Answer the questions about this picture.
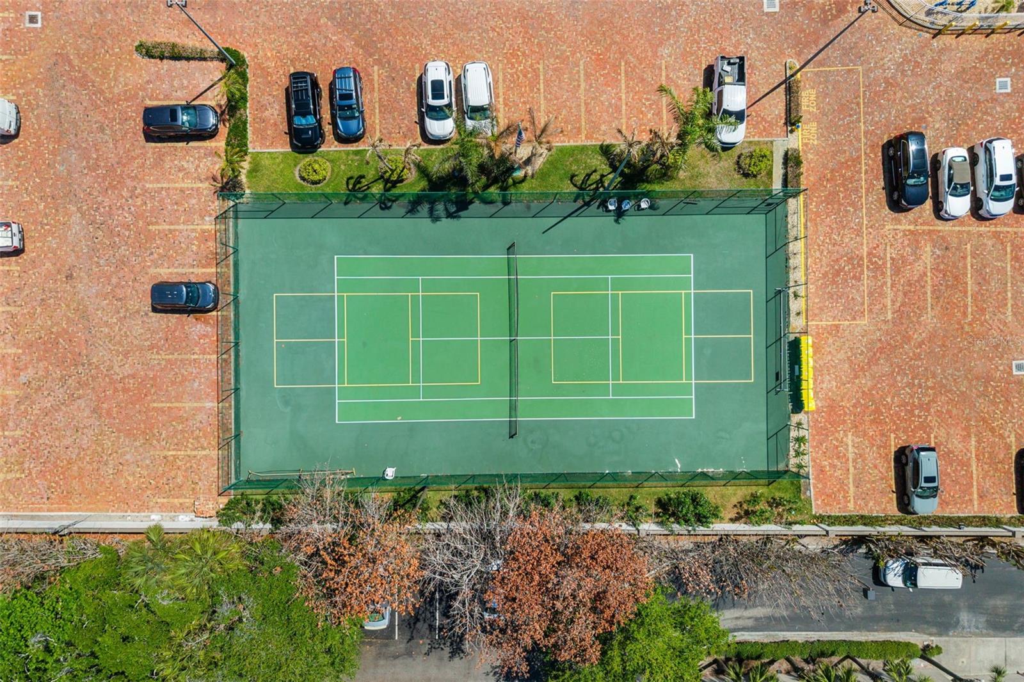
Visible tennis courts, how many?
1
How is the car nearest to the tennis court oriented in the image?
horizontally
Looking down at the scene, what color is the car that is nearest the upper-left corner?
white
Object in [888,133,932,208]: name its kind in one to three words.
car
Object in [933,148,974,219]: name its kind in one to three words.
car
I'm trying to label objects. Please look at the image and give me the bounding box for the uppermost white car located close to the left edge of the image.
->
[0,103,26,136]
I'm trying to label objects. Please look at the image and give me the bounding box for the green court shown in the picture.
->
[233,200,791,482]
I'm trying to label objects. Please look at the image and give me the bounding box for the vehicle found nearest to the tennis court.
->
[151,276,221,312]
